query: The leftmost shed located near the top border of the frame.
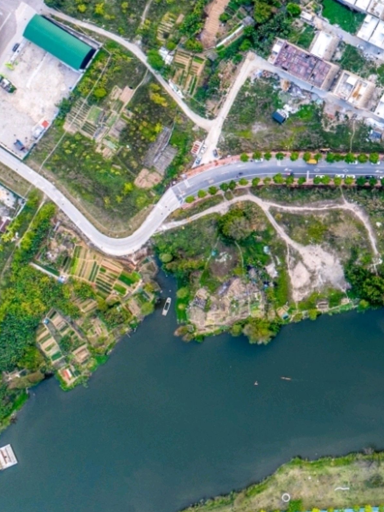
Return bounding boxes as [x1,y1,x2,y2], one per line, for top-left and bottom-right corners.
[21,15,100,70]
